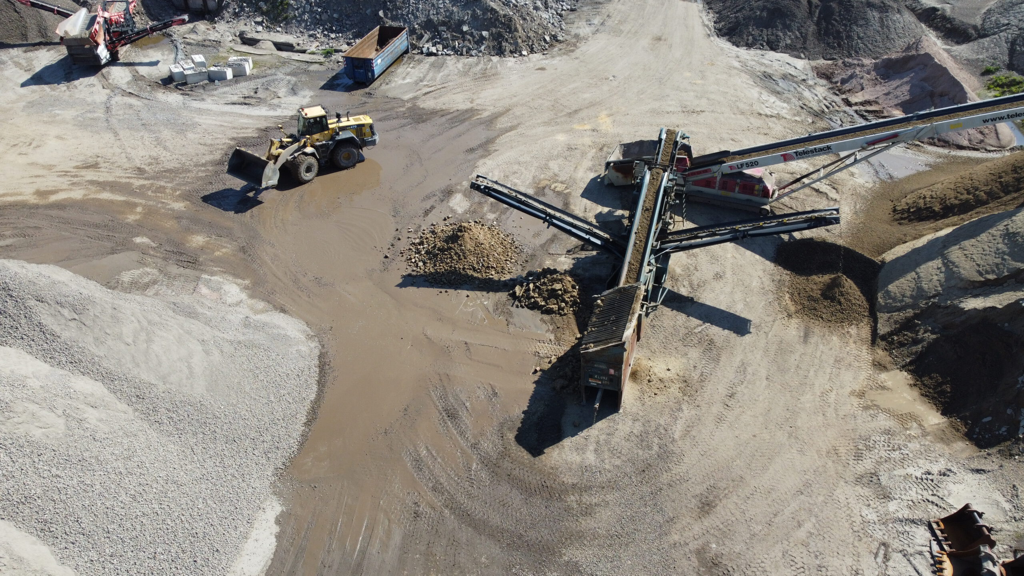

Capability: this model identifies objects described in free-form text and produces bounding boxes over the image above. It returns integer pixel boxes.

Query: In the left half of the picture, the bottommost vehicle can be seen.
[225,105,384,191]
